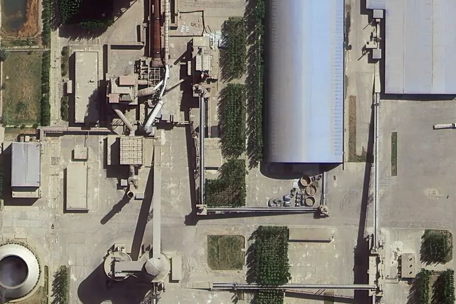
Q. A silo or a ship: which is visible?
silo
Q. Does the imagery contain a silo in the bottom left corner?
Yes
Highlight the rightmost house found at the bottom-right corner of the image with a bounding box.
[402,254,416,278]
